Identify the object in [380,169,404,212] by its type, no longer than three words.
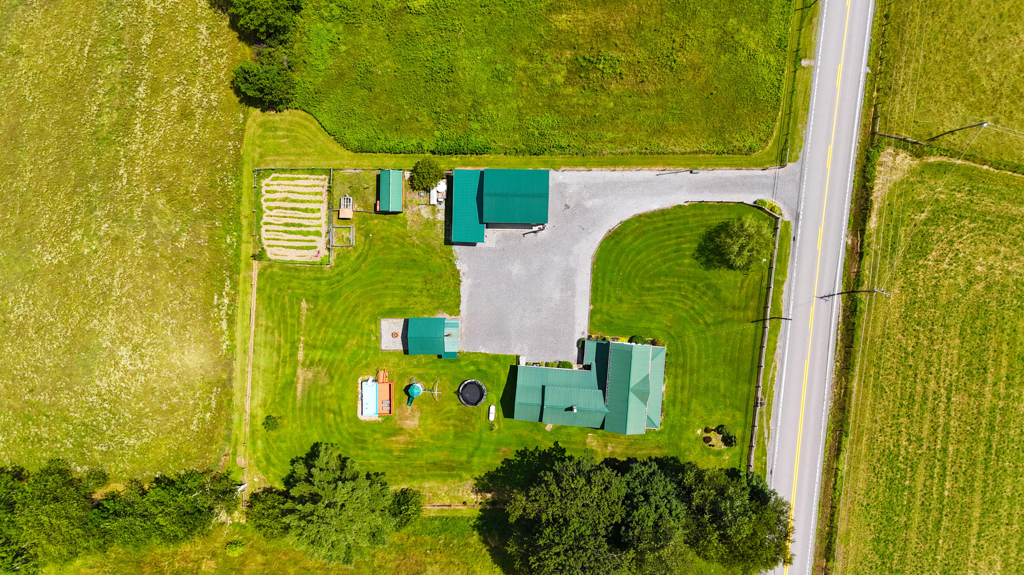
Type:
shed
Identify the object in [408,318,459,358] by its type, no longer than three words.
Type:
building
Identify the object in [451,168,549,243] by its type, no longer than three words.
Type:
barn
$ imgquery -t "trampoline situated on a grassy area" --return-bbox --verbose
[458,378,488,407]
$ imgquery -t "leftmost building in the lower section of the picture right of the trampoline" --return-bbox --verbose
[514,339,667,435]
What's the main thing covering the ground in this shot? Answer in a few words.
grass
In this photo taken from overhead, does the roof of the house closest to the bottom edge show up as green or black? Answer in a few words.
green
